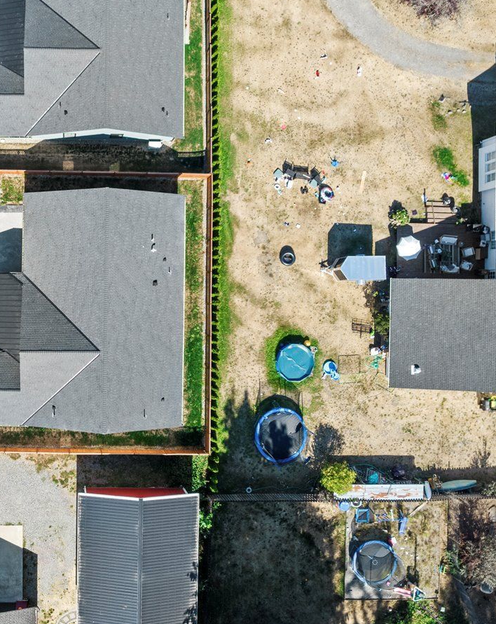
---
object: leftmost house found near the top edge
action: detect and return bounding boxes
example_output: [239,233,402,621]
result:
[0,0,186,142]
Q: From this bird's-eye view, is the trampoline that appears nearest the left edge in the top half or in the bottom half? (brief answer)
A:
bottom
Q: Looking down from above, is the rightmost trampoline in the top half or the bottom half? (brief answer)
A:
bottom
